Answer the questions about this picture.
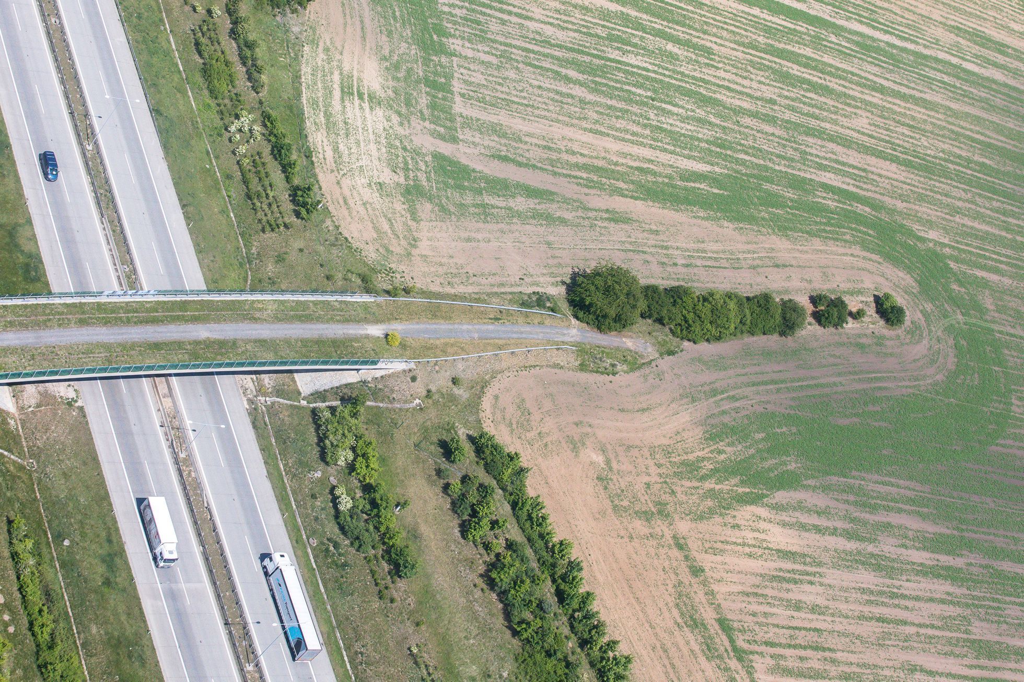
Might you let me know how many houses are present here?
none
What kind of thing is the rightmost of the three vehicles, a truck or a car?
truck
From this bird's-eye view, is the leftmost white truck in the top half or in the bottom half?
bottom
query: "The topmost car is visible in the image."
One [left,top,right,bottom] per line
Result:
[42,153,60,182]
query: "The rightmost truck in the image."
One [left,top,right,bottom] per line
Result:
[263,554,322,664]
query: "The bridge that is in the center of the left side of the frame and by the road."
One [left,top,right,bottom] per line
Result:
[0,294,429,383]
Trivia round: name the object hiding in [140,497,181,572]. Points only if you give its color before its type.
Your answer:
white truck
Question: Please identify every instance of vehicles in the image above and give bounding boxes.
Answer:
[140,497,181,572]
[263,554,322,664]
[42,153,60,182]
